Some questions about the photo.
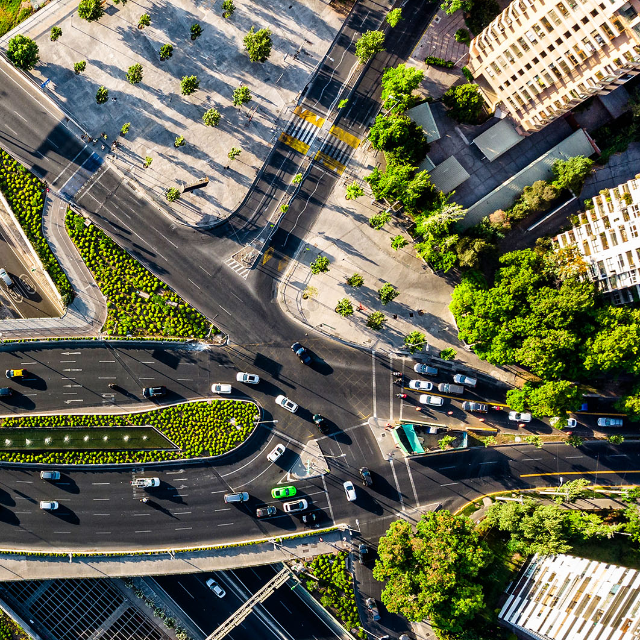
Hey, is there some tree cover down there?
Yes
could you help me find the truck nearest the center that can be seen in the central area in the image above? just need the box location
[291,340,314,366]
